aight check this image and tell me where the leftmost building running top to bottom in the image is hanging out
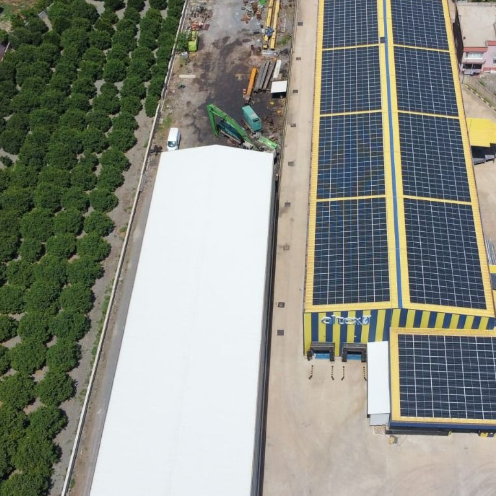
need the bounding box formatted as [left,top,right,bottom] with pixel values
[88,147,274,496]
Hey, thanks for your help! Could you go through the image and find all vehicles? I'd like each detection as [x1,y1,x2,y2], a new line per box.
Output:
[165,122,182,151]
[208,104,265,151]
